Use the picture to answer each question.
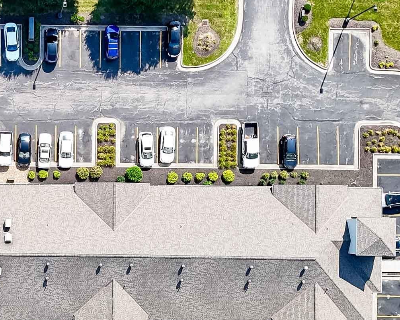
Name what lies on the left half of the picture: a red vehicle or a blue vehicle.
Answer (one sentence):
It is a blue vehicle that can be seen on the left half of the picture.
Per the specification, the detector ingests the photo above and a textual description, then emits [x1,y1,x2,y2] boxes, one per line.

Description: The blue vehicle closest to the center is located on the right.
[281,134,299,168]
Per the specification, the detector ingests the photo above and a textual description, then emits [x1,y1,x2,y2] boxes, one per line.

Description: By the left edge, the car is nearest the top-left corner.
[3,23,20,61]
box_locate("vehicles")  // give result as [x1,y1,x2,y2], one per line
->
[16,133,31,167]
[159,126,176,164]
[0,130,12,167]
[139,131,154,167]
[3,23,20,61]
[166,21,183,57]
[281,134,299,168]
[241,123,261,166]
[57,131,75,167]
[384,190,400,208]
[37,134,51,168]
[105,25,121,61]
[44,28,61,63]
